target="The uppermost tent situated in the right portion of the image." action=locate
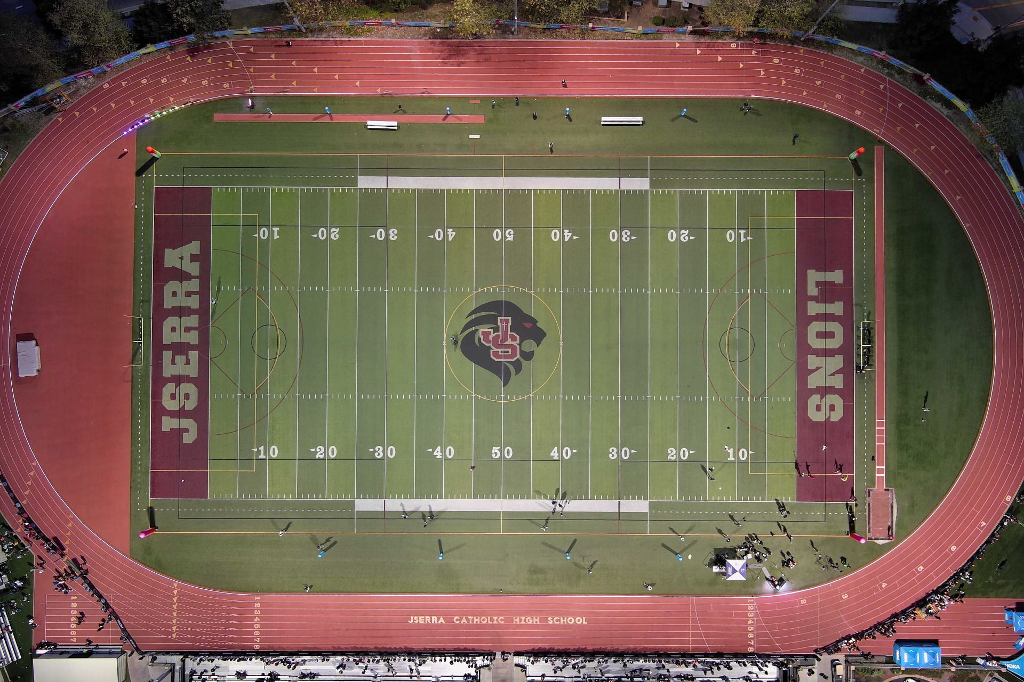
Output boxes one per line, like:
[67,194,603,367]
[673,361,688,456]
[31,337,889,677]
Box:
[722,556,746,580]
